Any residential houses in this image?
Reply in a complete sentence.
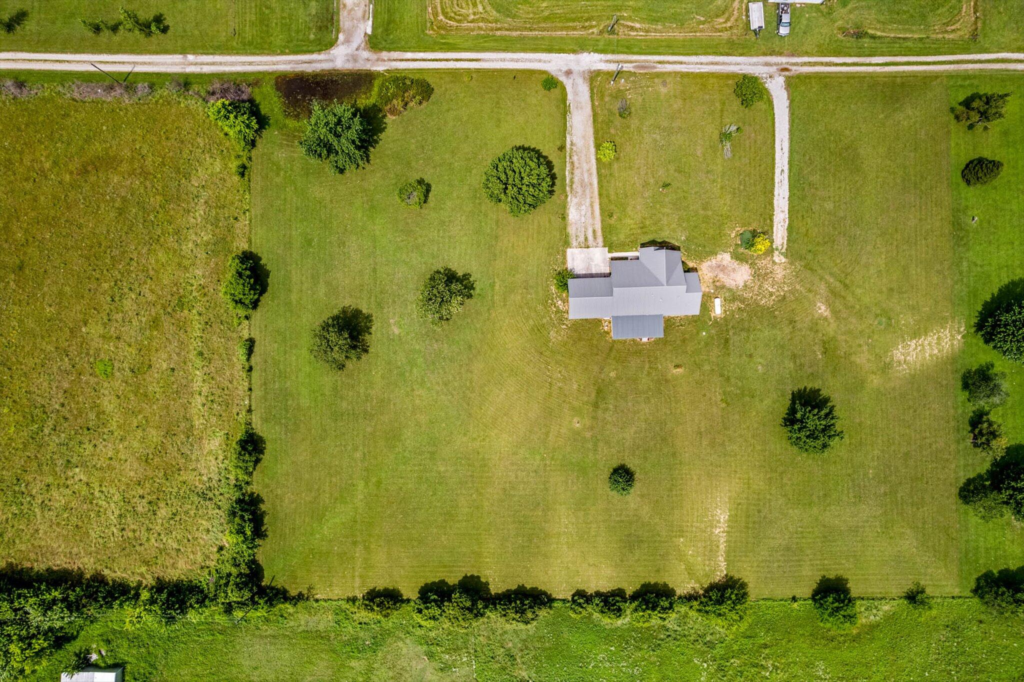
Yes, the frame does contain a residential house.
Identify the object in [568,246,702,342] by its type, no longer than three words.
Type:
house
